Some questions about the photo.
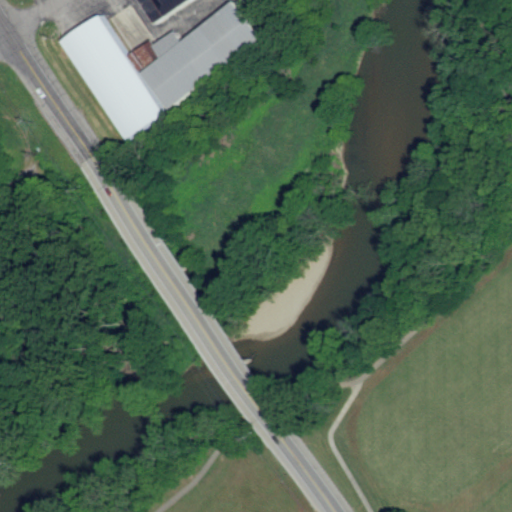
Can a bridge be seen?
Yes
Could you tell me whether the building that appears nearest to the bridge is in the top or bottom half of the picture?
top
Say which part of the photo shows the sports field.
bottom right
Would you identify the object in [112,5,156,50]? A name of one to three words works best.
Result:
building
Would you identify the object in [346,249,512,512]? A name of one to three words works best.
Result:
sports field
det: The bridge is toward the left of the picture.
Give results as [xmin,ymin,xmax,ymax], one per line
[80,153,276,425]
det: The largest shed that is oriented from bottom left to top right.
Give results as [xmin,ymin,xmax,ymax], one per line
[142,2,256,109]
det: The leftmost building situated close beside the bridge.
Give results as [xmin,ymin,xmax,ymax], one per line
[59,14,166,142]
